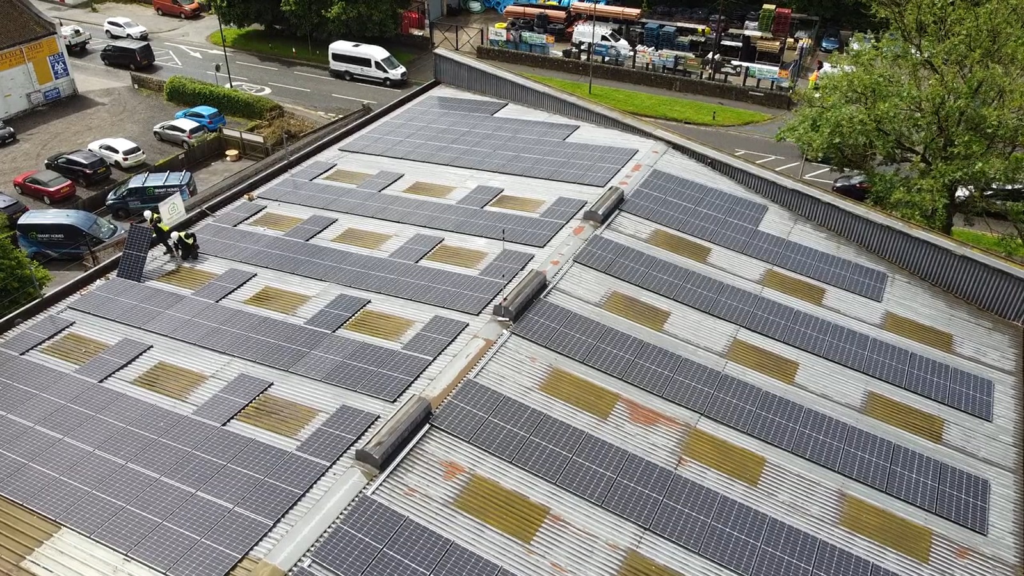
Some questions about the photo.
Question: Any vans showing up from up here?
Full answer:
Yes, you can see a van in this photo.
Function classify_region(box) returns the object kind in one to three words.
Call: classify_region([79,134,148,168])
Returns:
car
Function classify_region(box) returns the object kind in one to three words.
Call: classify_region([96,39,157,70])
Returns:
van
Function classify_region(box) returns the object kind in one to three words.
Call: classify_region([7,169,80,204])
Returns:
car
